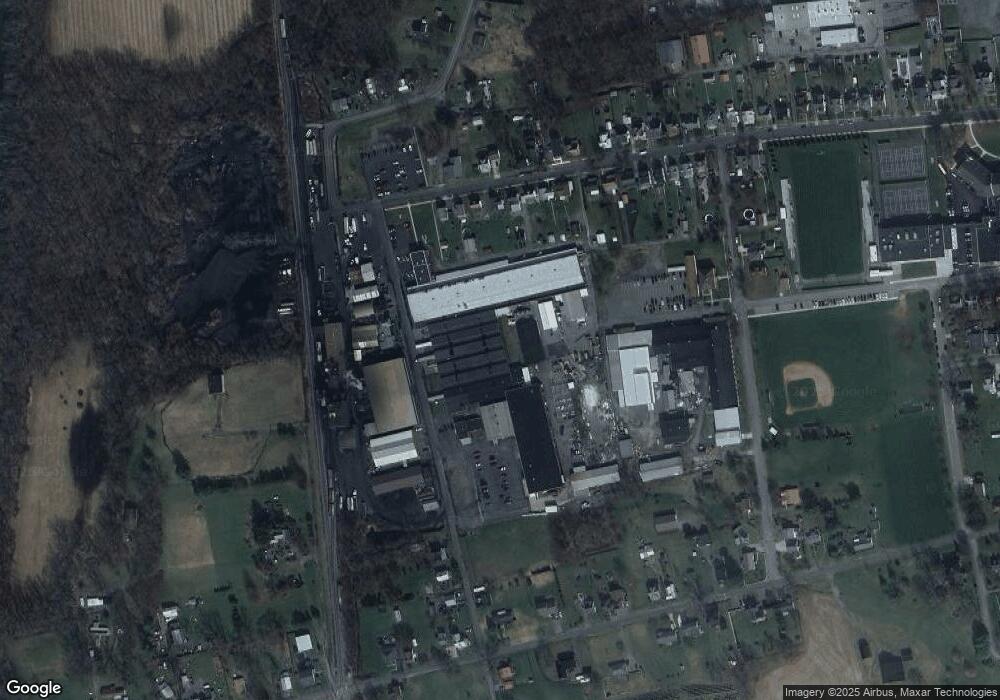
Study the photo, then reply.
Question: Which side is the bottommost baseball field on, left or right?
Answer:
right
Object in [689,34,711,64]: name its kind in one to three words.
building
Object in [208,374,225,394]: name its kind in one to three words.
barn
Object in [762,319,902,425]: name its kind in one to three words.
baseball field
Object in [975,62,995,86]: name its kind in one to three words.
house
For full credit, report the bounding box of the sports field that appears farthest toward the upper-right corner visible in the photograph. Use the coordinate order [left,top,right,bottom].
[778,145,864,277]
